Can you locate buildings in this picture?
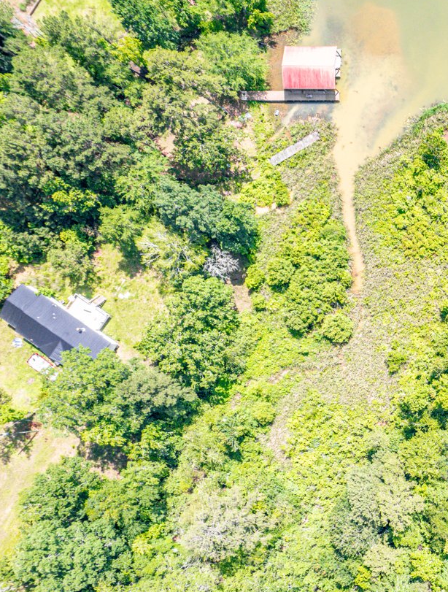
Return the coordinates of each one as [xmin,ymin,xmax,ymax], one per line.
[1,284,119,372]
[280,46,345,99]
